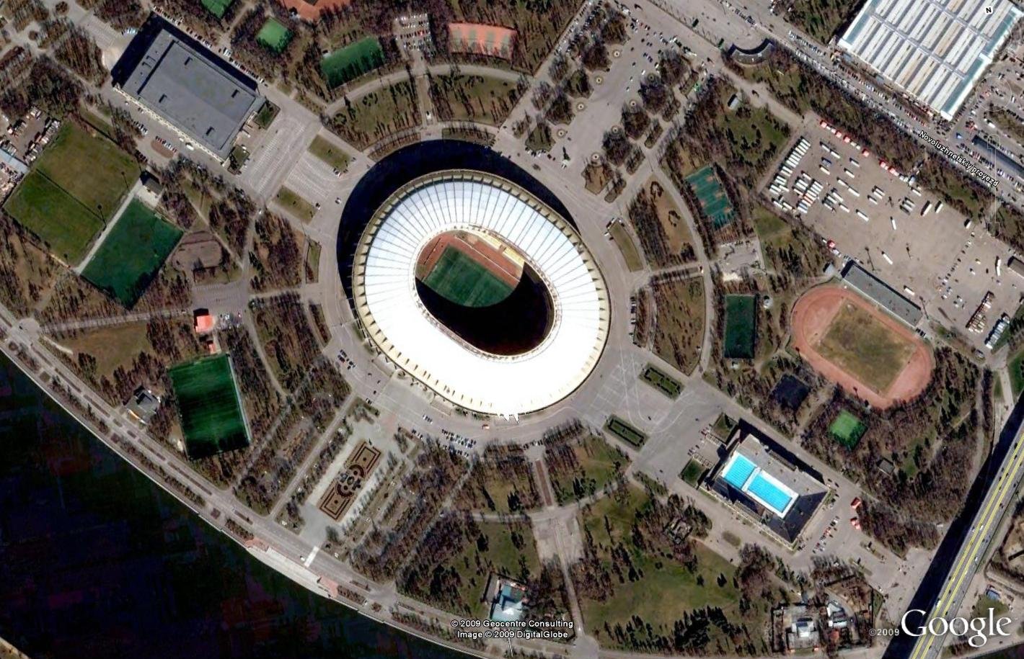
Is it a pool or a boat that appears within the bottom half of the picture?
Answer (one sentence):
Visible within the bottom half of the picture is a pool.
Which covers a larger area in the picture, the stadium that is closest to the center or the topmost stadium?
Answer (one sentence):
The stadium that is closest to the center takes up more space than the topmost stadium.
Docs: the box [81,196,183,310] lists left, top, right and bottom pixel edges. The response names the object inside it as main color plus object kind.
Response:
green sports field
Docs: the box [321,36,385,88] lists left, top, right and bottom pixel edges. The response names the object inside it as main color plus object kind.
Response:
green sports field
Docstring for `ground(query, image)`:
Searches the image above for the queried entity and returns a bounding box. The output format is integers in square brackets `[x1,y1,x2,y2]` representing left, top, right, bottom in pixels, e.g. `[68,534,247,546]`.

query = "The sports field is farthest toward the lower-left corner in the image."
[169,354,249,459]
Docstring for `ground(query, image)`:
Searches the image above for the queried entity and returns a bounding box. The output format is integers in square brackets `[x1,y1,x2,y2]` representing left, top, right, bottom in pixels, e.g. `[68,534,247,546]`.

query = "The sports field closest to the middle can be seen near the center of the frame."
[419,245,529,349]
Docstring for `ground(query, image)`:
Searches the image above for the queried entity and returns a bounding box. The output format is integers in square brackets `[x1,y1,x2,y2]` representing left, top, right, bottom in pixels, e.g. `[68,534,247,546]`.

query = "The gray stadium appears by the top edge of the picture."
[115,29,257,168]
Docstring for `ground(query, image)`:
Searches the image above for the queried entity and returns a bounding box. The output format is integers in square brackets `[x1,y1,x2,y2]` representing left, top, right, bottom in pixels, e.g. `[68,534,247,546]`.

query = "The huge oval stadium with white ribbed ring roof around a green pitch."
[348,170,610,424]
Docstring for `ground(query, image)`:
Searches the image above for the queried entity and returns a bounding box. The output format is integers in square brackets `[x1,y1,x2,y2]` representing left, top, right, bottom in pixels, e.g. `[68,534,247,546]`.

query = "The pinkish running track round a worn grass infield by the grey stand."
[792,287,935,410]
